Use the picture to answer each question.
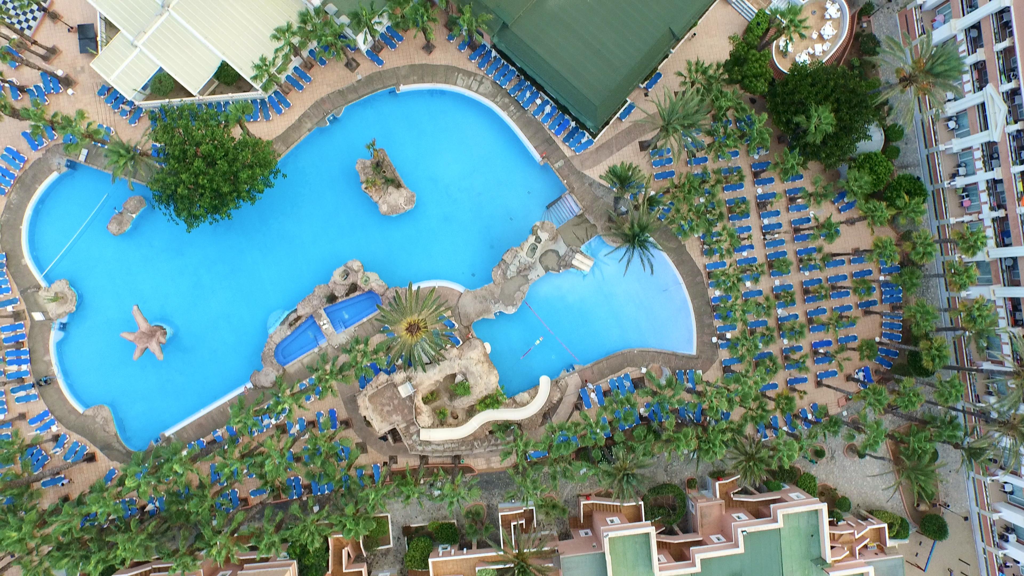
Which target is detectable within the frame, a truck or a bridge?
bridge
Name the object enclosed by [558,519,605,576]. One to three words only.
building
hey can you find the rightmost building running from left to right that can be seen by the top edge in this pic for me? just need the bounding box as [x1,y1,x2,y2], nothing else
[447,0,721,133]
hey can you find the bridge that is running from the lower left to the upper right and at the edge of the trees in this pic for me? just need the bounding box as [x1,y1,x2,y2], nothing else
[458,221,593,326]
